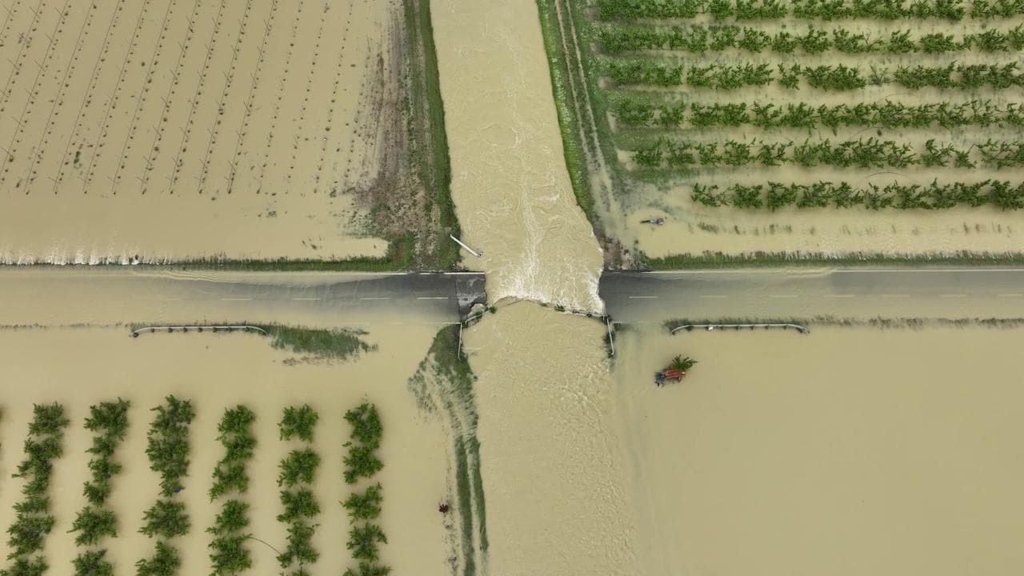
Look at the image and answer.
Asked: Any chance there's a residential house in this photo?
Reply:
No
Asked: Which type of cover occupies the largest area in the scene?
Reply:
water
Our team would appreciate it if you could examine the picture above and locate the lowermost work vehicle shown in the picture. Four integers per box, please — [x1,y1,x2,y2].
[655,369,686,386]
